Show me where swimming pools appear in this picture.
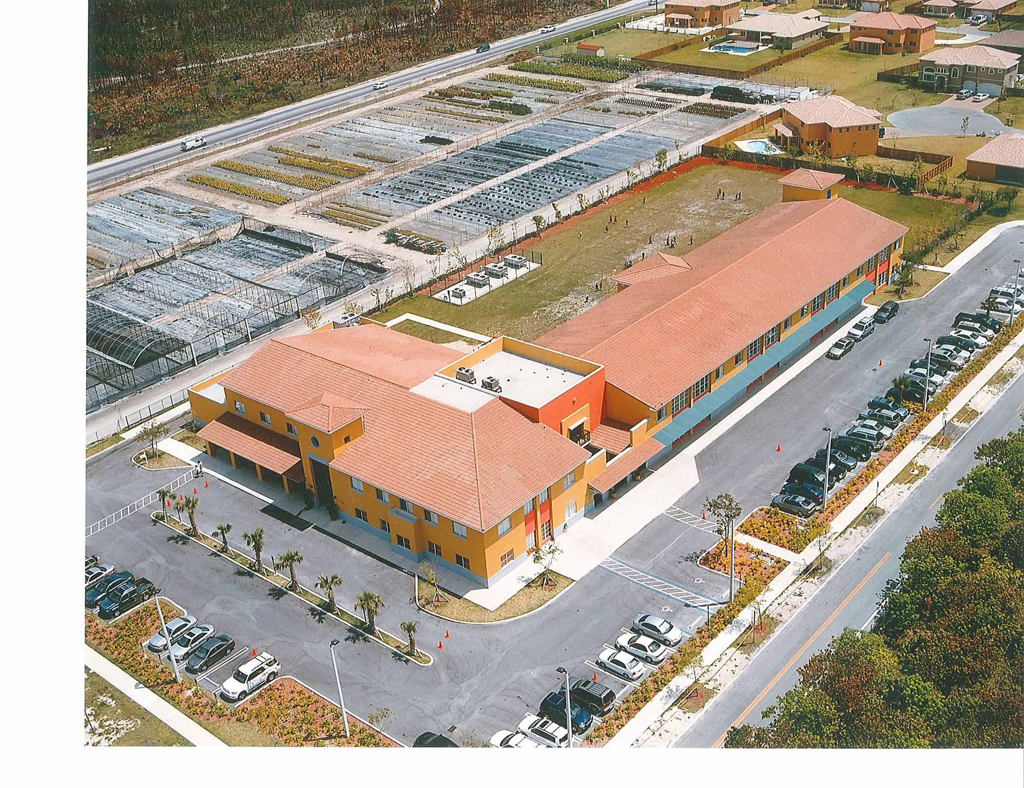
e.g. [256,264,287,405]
[698,40,773,56]
[733,138,789,154]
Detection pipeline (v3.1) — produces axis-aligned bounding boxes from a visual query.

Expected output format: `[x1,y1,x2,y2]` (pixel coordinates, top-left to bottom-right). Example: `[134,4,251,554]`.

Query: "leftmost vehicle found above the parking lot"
[180,136,206,149]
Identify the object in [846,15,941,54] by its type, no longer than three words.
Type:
house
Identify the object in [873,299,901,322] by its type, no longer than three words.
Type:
car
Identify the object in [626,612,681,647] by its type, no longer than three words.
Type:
car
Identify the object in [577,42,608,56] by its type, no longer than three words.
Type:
shed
